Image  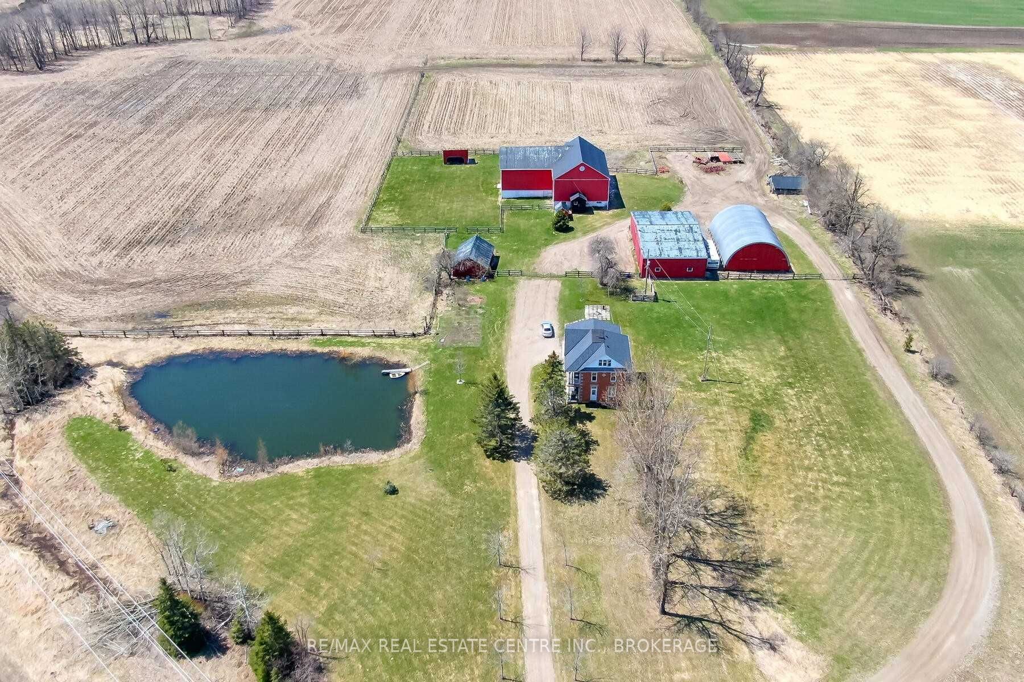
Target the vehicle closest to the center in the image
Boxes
[542,322,554,336]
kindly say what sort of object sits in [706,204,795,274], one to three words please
shed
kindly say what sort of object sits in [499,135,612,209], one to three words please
barn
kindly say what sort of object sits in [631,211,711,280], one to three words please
shed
